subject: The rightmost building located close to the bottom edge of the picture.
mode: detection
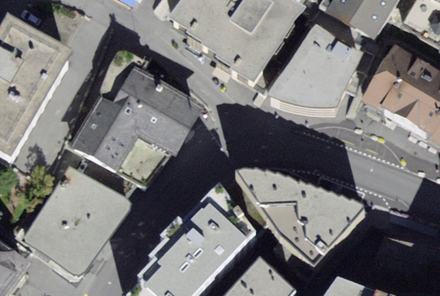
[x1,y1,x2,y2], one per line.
[375,236,440,296]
